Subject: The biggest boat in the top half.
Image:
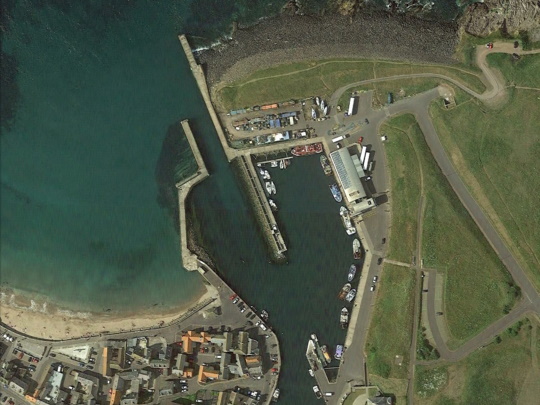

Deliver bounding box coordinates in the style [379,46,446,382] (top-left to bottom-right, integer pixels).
[291,144,323,157]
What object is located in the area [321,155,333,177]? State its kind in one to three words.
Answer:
boat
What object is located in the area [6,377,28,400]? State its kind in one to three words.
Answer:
house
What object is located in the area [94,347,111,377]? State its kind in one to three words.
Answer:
house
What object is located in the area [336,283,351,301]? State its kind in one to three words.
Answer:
boat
